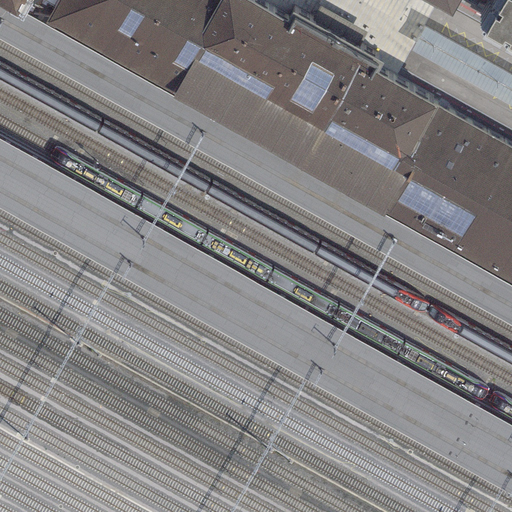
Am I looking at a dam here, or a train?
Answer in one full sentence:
Looking from above, you can make out a train.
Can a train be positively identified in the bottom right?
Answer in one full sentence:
Yes, looking in the bottom right, one can make out a train.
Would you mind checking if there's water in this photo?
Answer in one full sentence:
No, there's no water in this view.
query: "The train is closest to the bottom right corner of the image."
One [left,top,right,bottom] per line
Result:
[490,390,512,418]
